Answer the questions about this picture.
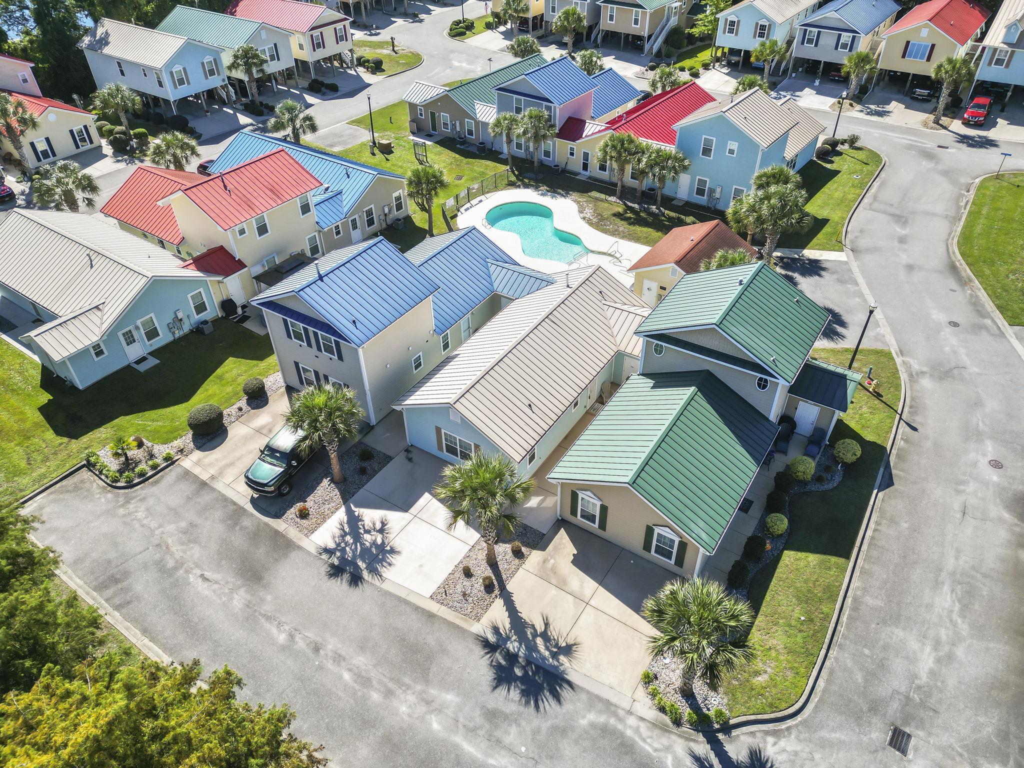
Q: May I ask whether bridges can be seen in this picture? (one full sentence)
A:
No, the picture doesn't show any bridge.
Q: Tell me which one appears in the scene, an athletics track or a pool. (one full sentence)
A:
Visible in the photo is a pool.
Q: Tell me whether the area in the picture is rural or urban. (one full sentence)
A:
The area is urban.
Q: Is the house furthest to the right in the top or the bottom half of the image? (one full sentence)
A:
The top half of the photo is where the house furthest to the right is.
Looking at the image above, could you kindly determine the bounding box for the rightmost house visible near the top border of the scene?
[967,7,1024,111]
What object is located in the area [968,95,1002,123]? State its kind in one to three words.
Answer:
truck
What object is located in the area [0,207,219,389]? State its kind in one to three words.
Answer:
house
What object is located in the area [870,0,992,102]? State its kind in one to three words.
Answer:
house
